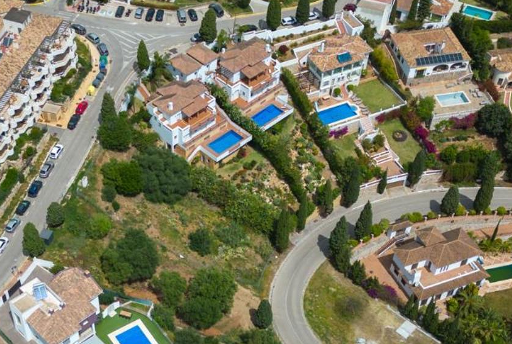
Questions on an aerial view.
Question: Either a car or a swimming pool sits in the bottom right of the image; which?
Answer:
swimming pool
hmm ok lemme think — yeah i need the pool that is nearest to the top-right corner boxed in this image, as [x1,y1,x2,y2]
[460,4,497,21]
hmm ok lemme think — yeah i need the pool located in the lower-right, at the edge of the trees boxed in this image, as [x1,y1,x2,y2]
[481,262,512,287]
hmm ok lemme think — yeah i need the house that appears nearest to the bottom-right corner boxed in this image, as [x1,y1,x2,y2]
[392,225,491,304]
